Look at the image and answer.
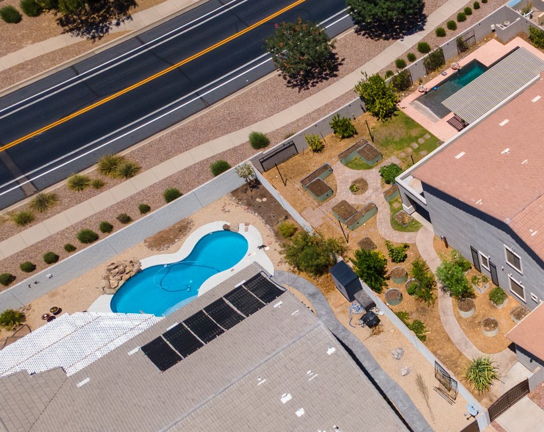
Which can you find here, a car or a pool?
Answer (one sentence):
The image shows a pool.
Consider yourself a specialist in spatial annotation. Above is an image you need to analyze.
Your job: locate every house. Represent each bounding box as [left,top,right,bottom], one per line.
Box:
[0,258,413,432]
[394,74,544,383]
